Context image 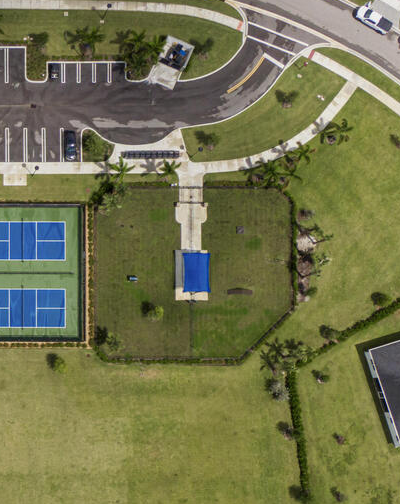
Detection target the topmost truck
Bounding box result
[355,4,395,35]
